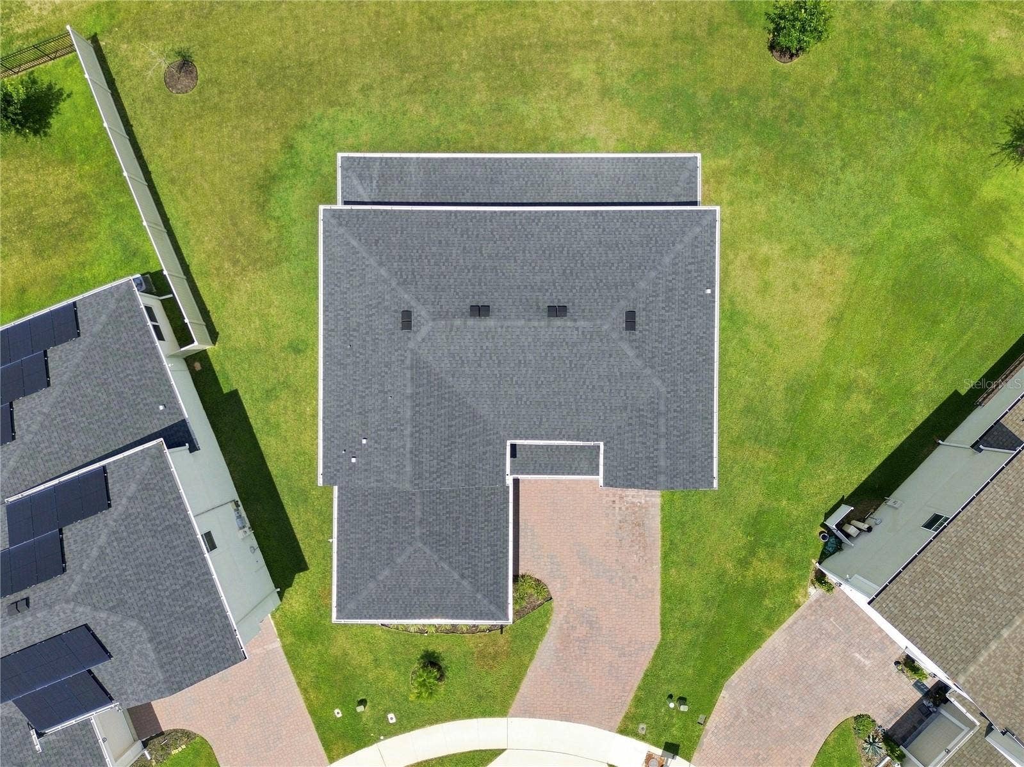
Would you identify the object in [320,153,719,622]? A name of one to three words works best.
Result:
house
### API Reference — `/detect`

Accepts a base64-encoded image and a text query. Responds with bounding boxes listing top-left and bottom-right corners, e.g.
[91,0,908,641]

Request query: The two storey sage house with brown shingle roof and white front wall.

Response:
[820,363,1024,767]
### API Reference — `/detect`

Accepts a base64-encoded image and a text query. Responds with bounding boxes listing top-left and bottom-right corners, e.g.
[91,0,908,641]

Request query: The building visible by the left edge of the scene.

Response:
[0,277,285,767]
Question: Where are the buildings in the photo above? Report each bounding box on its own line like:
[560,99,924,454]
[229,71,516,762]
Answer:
[0,277,285,767]
[320,153,719,622]
[820,363,1024,767]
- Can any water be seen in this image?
No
